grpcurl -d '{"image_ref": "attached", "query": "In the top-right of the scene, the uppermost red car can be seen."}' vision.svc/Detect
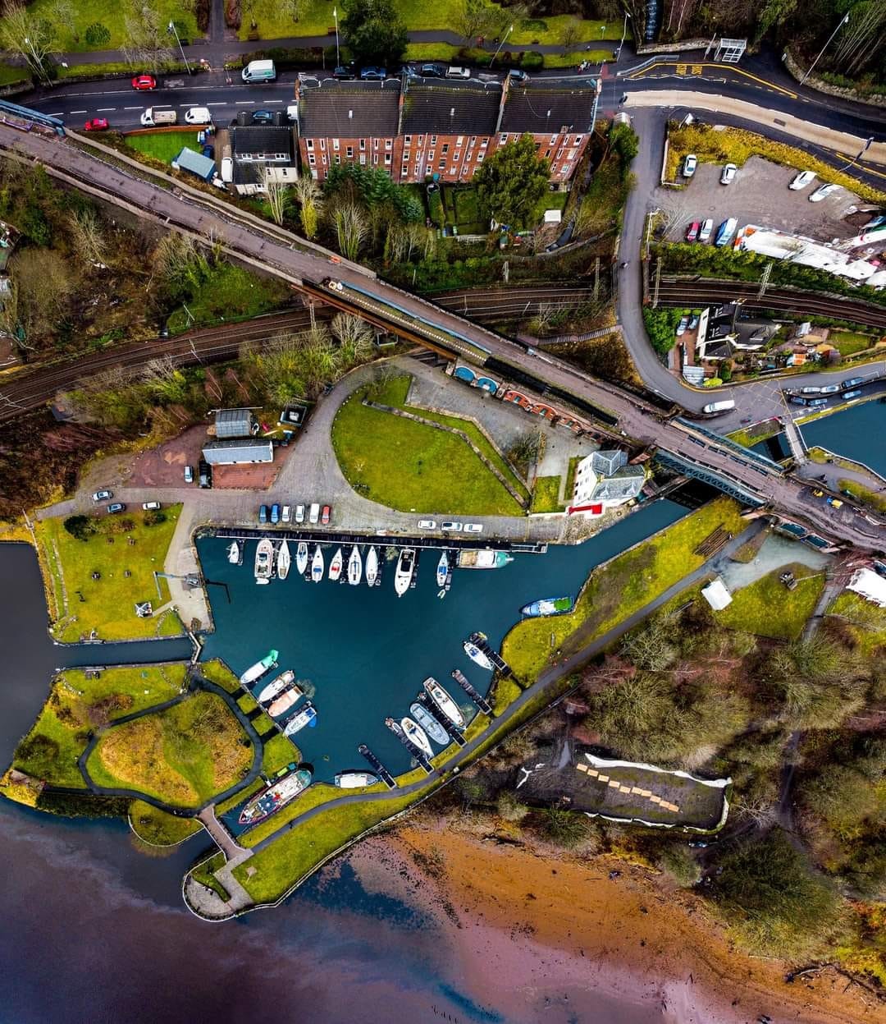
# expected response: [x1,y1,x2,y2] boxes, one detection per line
[686,221,700,241]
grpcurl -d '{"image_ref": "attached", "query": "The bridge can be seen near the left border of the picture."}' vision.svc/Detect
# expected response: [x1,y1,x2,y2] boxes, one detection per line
[0,98,70,139]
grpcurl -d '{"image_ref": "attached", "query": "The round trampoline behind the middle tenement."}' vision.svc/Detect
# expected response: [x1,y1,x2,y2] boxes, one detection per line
[426,173,445,195]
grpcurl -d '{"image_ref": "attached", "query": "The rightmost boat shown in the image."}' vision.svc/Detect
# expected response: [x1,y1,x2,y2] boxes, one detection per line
[520,598,573,615]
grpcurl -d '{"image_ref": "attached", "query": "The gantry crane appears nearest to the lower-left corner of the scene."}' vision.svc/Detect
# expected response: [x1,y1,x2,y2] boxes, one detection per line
[153,569,200,601]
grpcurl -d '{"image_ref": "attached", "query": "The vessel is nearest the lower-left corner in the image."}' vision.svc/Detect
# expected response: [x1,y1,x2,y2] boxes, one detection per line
[239,766,312,833]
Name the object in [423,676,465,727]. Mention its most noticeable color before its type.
white boat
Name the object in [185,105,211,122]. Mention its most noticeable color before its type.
white vehicle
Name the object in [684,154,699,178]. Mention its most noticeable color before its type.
white car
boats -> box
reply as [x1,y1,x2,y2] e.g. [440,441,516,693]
[295,542,308,575]
[401,715,433,757]
[311,546,324,582]
[230,541,239,565]
[259,668,296,702]
[275,540,292,579]
[437,552,448,586]
[410,700,447,744]
[241,652,275,684]
[364,546,379,585]
[306,715,317,730]
[458,550,512,568]
[329,549,343,580]
[390,718,400,731]
[520,598,573,615]
[285,705,317,735]
[270,685,303,715]
[335,772,376,788]
[463,640,493,668]
[254,579,269,584]
[347,545,363,584]
[396,550,417,596]
[254,540,275,578]
[423,676,465,727]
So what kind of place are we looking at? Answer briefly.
port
